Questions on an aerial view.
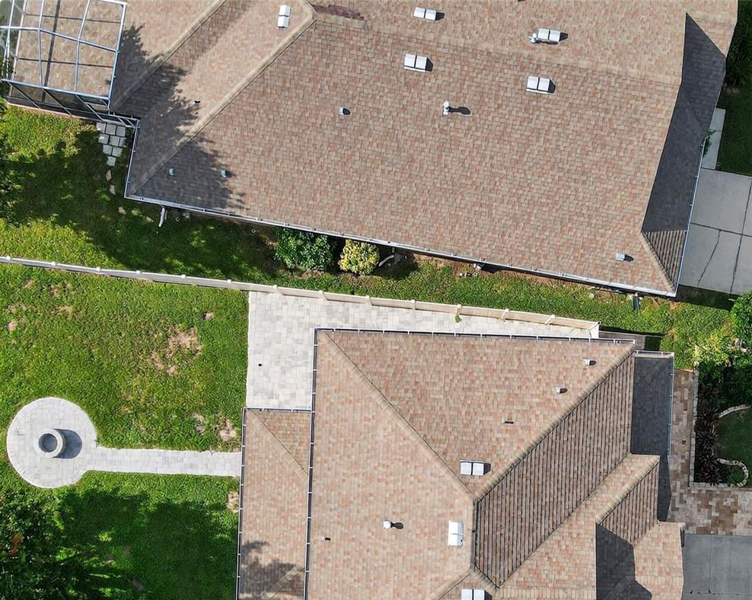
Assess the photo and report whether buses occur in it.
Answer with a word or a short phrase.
No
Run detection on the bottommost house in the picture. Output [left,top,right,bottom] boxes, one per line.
[233,325,687,600]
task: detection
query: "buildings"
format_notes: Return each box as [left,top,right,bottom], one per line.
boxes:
[108,0,742,300]
[233,325,687,600]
